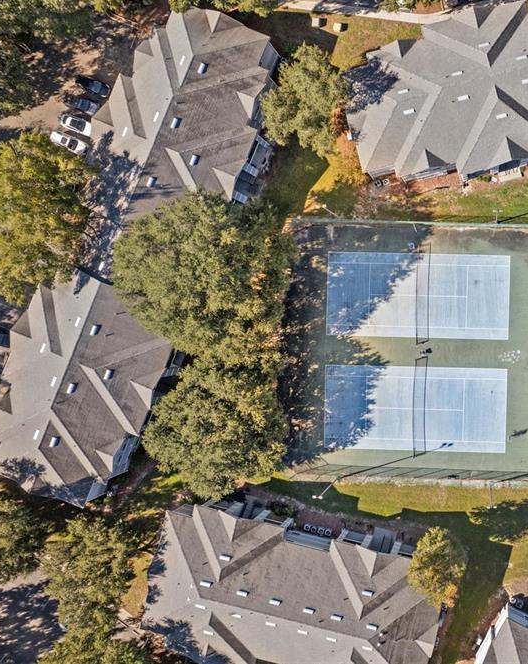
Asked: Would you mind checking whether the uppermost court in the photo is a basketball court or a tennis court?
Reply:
tennis court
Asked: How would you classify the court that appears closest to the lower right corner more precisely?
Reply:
tennis court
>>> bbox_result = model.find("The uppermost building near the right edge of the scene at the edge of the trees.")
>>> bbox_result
[341,0,528,183]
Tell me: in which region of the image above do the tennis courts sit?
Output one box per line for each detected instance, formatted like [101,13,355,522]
[326,251,511,340]
[324,365,508,453]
